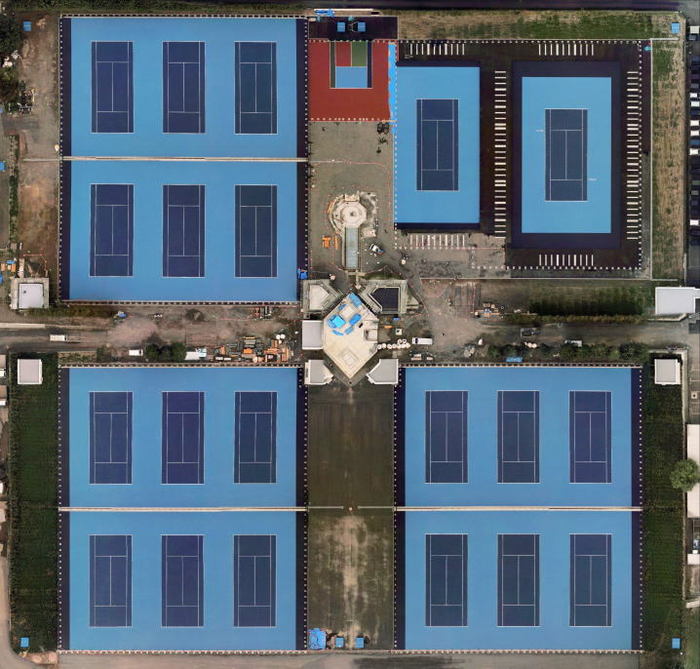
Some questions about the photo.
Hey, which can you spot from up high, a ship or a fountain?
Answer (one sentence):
I can see a fountain in this picture.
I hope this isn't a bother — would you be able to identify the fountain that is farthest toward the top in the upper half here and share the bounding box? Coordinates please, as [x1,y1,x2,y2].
[325,191,379,236]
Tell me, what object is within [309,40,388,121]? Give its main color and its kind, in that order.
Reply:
red sports court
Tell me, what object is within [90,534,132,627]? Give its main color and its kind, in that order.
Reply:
blue tennis court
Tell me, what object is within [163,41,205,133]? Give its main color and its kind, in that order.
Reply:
blue tennis court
